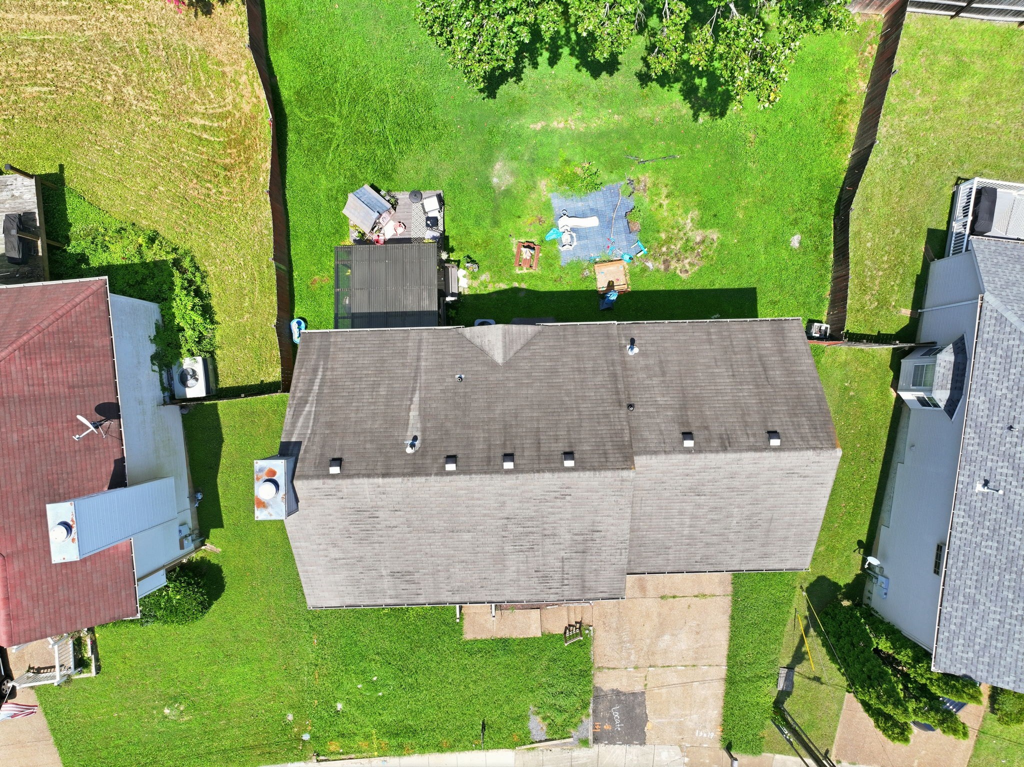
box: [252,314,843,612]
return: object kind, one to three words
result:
house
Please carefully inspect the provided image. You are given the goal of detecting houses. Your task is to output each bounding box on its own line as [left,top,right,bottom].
[872,235,1024,694]
[252,314,843,612]
[0,274,208,649]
